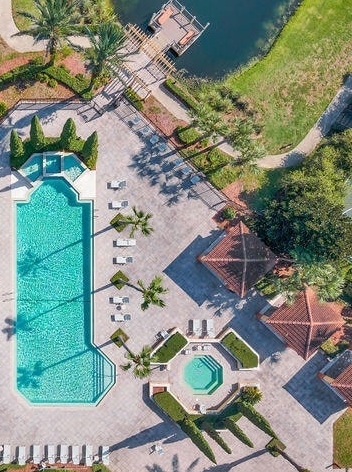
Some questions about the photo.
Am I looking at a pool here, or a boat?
pool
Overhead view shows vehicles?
No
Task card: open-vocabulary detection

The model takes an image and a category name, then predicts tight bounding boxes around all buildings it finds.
[255,281,348,364]
[323,359,352,410]
[193,219,275,299]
